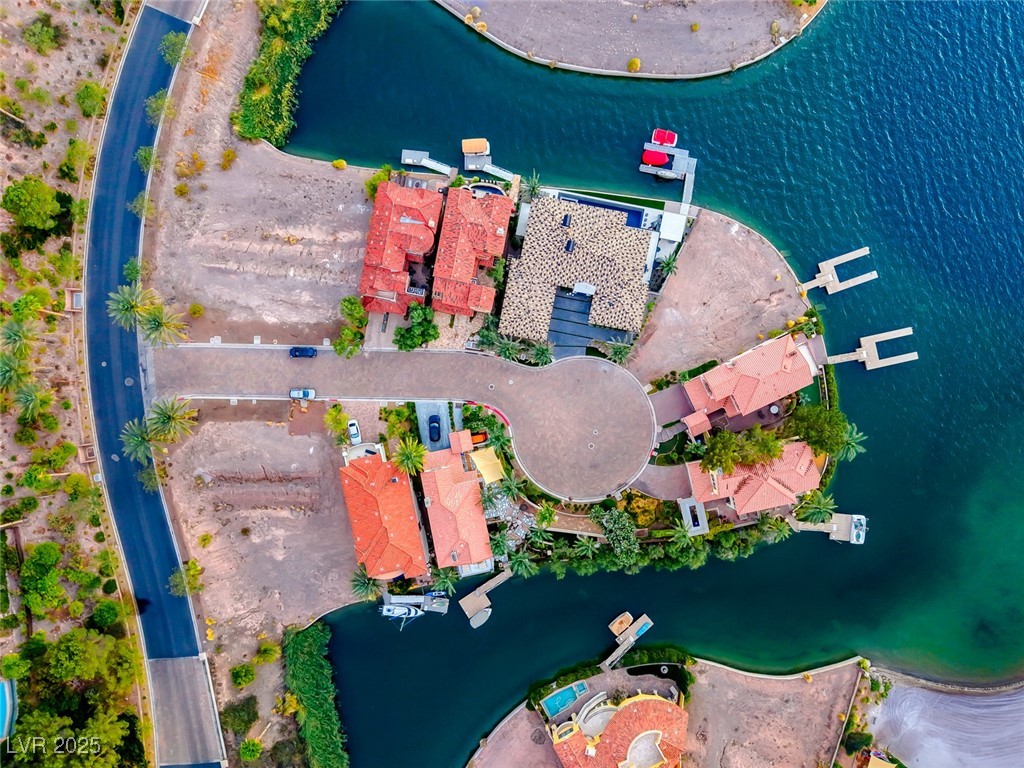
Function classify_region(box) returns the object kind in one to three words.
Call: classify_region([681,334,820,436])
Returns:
house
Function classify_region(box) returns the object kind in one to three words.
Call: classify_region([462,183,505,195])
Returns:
swimming pool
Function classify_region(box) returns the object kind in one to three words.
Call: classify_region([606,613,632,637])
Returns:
boat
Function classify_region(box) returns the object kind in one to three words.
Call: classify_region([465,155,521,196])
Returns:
pier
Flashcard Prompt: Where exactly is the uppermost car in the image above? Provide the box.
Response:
[289,346,317,359]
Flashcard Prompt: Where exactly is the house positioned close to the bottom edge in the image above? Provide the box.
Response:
[551,684,692,768]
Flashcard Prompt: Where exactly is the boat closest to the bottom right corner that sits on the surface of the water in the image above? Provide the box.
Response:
[851,515,869,543]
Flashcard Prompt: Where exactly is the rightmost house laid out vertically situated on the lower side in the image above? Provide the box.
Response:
[421,430,495,578]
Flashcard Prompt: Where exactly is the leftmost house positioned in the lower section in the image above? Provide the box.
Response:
[338,441,428,584]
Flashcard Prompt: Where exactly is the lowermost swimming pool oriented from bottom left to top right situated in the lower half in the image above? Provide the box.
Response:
[541,681,589,718]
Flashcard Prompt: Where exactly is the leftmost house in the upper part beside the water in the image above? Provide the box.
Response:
[360,181,443,316]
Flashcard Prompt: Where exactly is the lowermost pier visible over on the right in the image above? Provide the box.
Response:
[601,613,654,671]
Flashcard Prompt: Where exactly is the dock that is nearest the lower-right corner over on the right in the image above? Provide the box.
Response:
[786,513,852,541]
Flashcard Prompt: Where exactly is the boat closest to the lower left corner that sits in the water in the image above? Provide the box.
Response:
[379,604,424,627]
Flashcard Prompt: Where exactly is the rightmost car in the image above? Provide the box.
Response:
[427,415,441,442]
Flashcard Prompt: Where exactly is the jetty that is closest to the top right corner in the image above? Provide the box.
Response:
[796,247,878,296]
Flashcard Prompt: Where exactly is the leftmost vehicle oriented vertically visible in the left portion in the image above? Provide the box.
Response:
[349,418,362,446]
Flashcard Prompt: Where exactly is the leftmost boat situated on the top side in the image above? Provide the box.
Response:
[460,136,491,156]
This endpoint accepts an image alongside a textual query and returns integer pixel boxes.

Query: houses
[432,188,513,317]
[421,430,495,578]
[681,334,820,436]
[360,181,443,316]
[551,684,692,768]
[338,441,428,584]
[684,442,821,514]
[499,198,660,341]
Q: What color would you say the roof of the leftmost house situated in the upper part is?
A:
red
